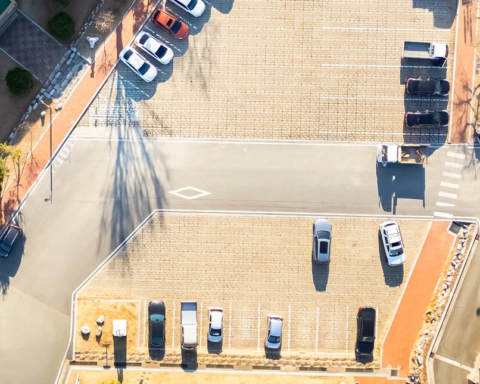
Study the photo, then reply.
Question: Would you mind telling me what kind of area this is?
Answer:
parking lot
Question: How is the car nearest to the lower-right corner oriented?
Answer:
vertically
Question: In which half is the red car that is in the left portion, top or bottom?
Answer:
top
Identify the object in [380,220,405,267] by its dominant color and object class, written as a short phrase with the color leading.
white car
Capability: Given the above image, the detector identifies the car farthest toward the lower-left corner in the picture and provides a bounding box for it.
[0,222,26,259]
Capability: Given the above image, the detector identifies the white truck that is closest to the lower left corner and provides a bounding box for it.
[179,299,200,349]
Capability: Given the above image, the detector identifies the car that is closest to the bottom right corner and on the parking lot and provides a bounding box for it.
[356,306,377,355]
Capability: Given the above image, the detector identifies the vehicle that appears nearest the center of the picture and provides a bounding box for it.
[313,219,334,263]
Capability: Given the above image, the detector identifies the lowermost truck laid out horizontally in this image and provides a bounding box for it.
[376,144,431,166]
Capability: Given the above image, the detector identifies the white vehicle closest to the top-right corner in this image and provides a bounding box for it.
[401,40,451,63]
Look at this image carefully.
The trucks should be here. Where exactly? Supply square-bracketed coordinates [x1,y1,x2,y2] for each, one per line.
[376,144,431,166]
[401,40,451,63]
[179,299,200,349]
